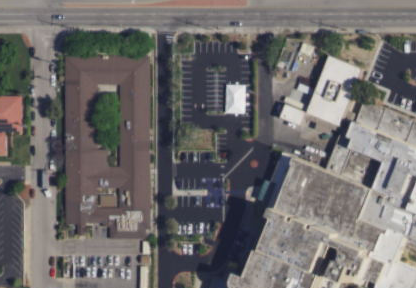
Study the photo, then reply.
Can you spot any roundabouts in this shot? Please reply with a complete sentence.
No, there isn't any roundabout down there.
